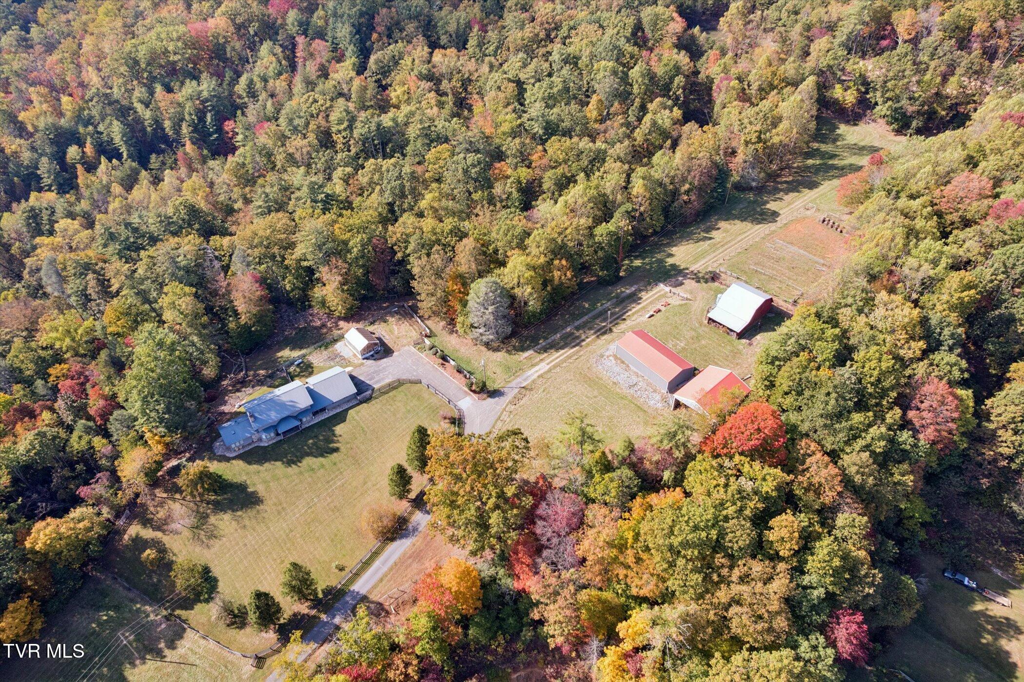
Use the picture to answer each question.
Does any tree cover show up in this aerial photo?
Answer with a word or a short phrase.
Yes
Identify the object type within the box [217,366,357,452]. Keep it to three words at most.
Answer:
house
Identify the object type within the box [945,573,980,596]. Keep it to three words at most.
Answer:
truck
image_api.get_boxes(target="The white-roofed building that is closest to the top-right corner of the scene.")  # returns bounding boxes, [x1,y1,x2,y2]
[706,281,773,338]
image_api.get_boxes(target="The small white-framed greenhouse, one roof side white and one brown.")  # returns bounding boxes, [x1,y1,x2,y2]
[344,327,380,359]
